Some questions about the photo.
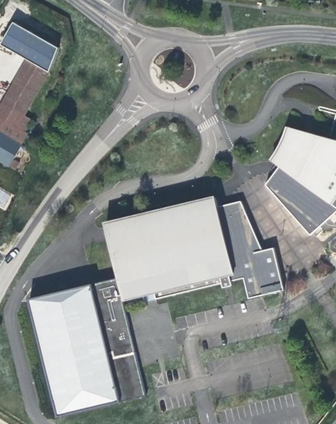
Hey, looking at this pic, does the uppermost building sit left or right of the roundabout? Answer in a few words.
left of it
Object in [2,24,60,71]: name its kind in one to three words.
building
